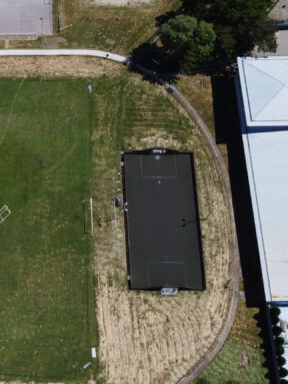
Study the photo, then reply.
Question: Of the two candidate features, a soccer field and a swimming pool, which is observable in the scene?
soccer field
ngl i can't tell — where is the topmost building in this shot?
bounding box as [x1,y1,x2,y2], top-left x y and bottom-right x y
[232,58,288,140]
